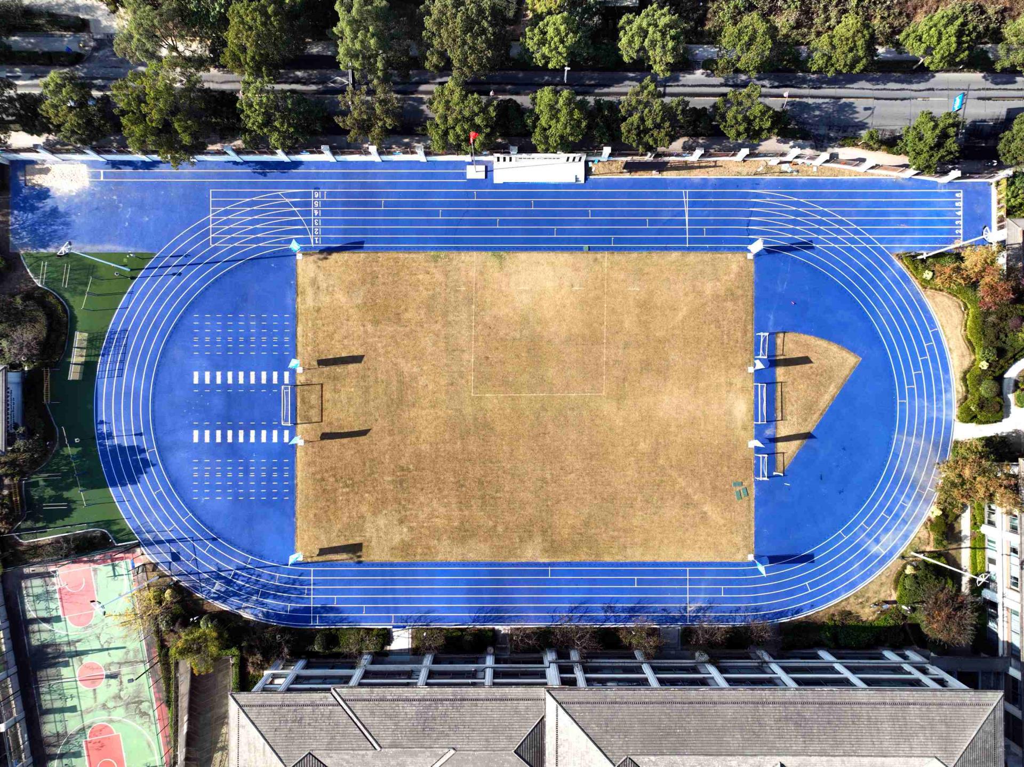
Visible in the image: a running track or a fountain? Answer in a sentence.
The one in the frame is a running track.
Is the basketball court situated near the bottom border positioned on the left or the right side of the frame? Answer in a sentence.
The basketball court situated near the bottom border sits on the left side.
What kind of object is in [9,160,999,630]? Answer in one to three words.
running track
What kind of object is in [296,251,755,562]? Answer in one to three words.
sports field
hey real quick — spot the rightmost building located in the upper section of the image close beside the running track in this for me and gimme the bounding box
[995,220,1024,248]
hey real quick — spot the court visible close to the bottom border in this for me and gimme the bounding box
[0,544,182,767]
